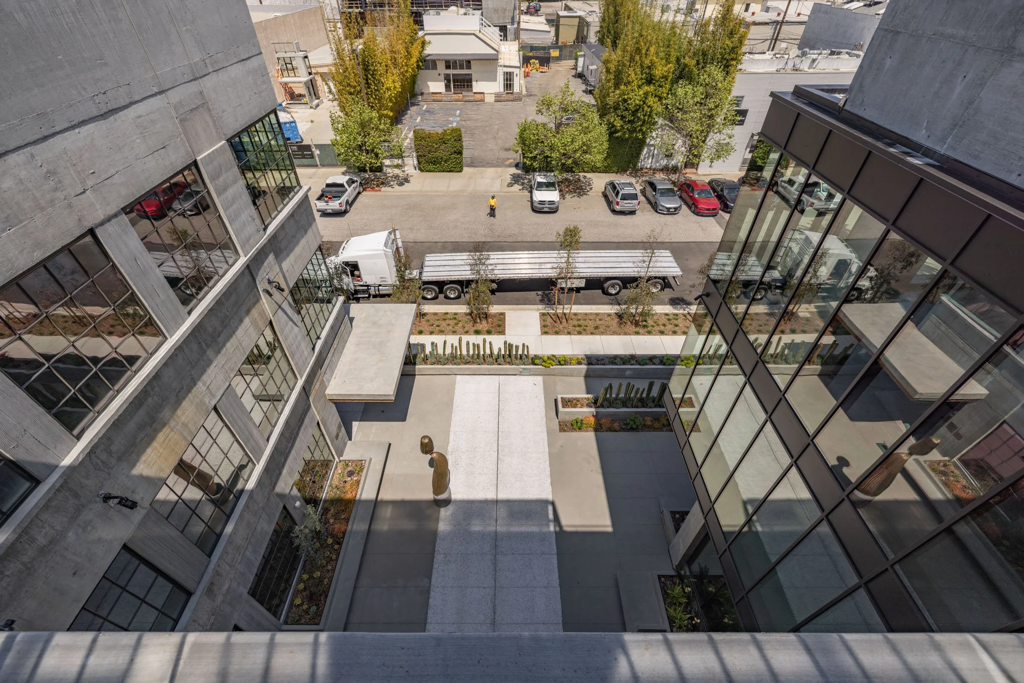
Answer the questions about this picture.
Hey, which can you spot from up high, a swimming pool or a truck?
truck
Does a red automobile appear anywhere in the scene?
Yes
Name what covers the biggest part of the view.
buildings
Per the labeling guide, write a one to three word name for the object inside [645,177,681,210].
car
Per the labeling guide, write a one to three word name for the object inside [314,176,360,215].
truck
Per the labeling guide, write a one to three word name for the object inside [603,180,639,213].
car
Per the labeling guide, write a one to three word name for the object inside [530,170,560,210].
truck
